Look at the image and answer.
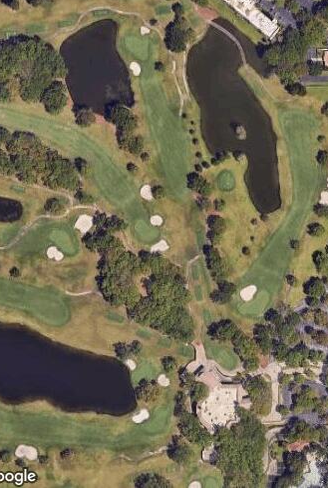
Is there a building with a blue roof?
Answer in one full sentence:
No, I can see no building with a blue roof in this picture.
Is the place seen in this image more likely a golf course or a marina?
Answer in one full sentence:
This looks like a golf course.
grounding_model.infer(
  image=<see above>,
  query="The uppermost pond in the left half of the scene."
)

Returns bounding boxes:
[61,20,134,116]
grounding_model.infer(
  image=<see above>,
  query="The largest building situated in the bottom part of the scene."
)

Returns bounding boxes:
[197,386,240,429]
